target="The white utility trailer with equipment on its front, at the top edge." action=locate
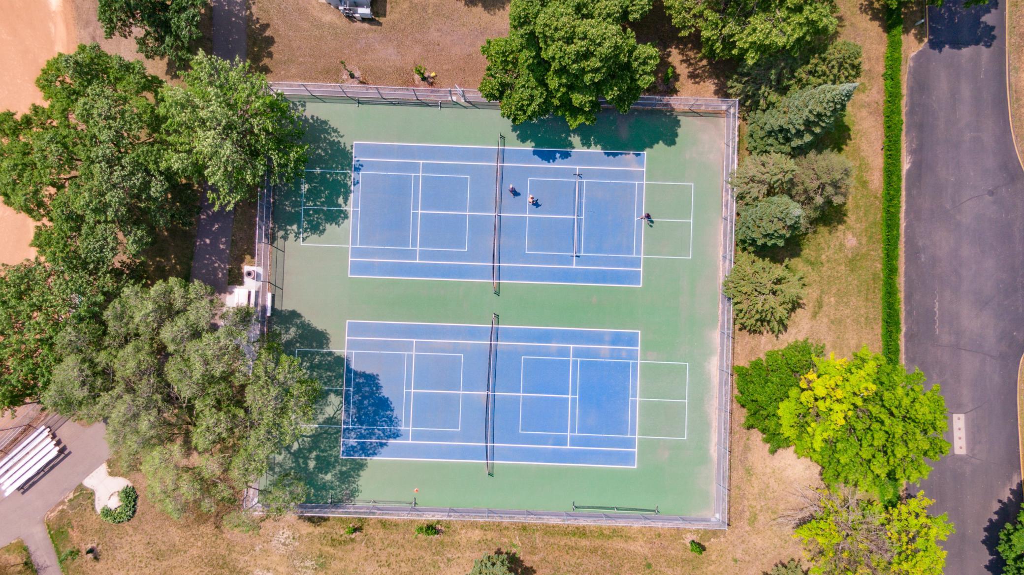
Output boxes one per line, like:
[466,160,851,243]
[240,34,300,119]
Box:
[320,0,371,28]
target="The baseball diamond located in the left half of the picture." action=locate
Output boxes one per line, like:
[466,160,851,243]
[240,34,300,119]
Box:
[0,0,75,437]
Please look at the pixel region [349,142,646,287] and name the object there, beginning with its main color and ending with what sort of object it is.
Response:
blue tennis court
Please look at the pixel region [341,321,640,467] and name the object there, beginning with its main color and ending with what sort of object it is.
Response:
blue tennis court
